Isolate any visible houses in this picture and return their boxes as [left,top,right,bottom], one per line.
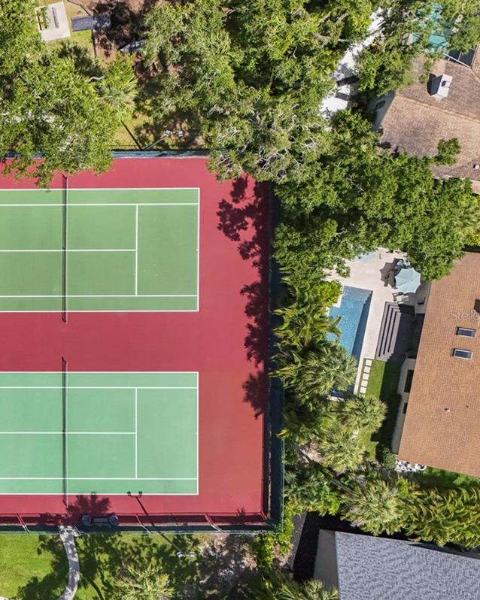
[371,36,480,196]
[388,251,480,474]
[320,526,480,600]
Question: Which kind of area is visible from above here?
sports ground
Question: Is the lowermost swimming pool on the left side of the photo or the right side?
right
